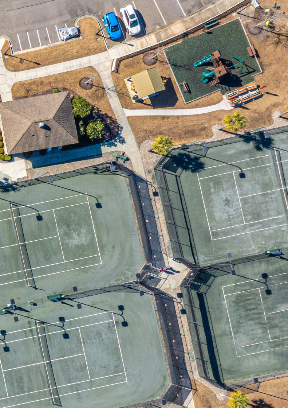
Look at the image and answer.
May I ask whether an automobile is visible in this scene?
Yes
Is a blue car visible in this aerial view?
Yes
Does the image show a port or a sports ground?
sports ground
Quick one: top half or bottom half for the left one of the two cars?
top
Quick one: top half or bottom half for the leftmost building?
top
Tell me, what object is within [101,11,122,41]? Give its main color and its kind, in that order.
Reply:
blue car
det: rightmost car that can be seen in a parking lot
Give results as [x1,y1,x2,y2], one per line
[118,2,140,35]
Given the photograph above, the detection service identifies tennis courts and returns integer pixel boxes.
[156,126,288,267]
[0,164,147,308]
[181,247,288,385]
[0,278,172,408]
